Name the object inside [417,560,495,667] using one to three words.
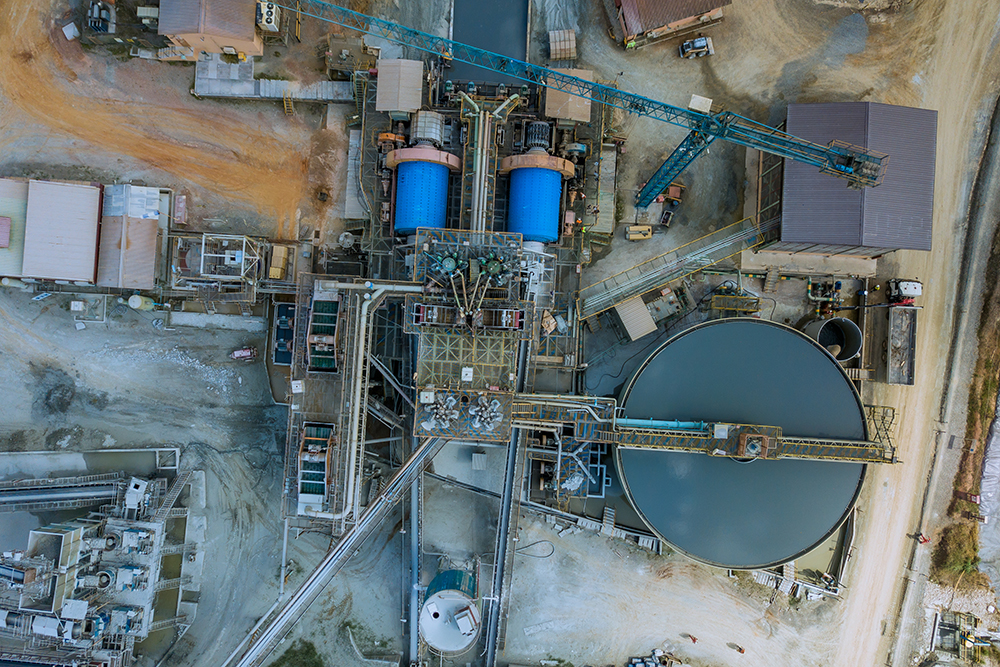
storage tank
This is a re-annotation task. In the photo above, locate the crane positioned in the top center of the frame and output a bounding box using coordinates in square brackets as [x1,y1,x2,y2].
[249,0,898,204]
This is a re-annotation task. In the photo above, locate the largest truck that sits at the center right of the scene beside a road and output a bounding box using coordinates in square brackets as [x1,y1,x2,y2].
[886,279,937,391]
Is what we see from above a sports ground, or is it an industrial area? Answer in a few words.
industrial area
